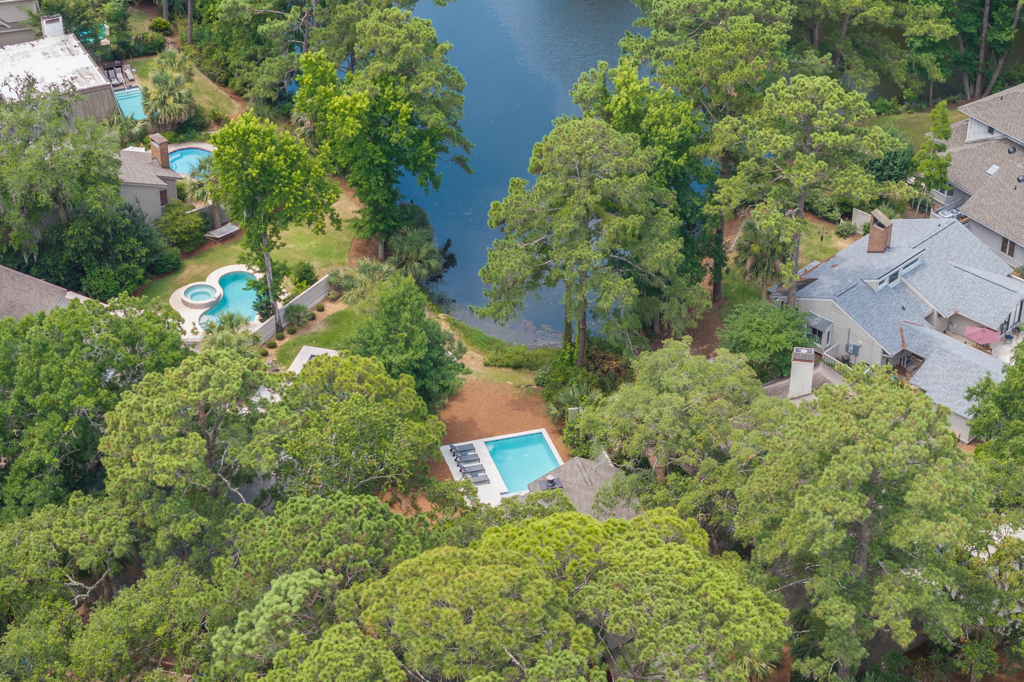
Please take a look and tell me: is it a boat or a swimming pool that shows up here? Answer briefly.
swimming pool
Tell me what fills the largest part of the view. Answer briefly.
trees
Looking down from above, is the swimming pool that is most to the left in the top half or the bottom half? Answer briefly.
top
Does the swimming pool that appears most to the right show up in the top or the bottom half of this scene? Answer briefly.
bottom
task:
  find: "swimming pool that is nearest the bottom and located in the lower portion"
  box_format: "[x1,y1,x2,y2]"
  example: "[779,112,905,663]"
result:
[484,432,560,490]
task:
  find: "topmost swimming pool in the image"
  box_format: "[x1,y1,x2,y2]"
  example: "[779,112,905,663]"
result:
[115,74,155,118]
